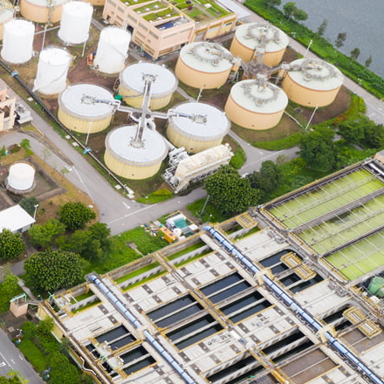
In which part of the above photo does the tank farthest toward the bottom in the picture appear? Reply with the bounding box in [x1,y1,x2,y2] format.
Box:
[0,159,37,193]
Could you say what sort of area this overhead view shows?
industrial area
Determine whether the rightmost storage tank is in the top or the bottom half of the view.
top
